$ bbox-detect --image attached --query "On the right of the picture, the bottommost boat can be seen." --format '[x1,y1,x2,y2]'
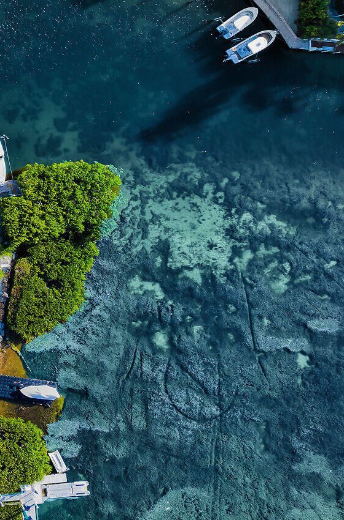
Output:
[217,30,276,64]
